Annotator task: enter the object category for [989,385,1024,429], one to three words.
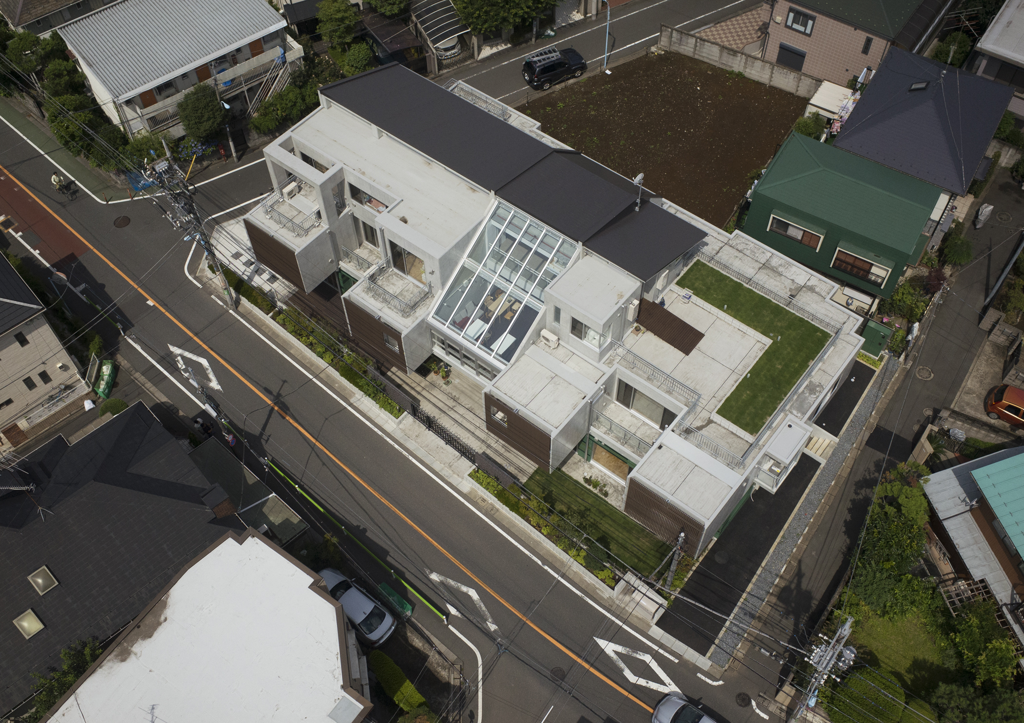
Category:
car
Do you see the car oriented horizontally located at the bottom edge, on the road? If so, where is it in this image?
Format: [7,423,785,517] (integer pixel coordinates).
[638,686,722,723]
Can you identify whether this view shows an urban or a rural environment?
urban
